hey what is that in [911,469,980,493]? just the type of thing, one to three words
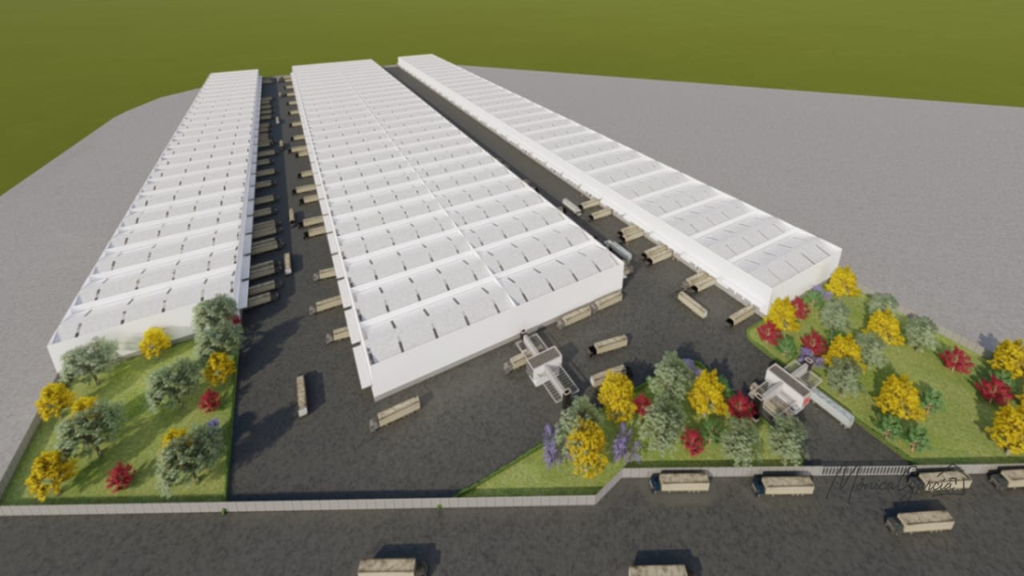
truck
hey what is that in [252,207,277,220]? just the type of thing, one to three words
vehicle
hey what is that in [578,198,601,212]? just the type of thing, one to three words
vehicle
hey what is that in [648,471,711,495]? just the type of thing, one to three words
truck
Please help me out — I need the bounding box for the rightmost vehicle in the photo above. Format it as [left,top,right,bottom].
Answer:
[986,468,1024,491]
